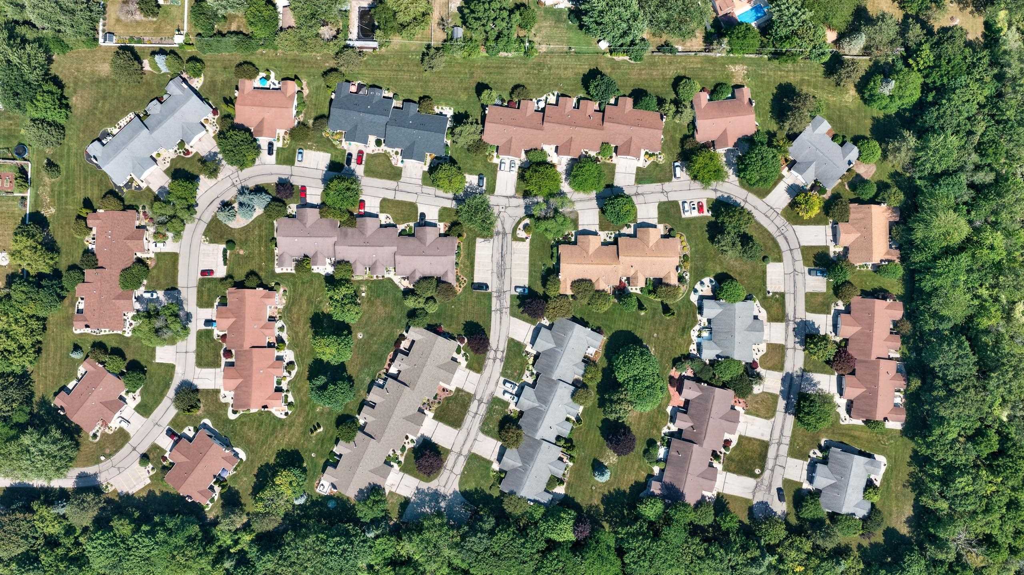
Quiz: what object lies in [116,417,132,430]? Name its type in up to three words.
vehicle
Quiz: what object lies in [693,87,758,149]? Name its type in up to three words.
house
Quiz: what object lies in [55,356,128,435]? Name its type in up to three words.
house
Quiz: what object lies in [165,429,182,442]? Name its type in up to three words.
vehicle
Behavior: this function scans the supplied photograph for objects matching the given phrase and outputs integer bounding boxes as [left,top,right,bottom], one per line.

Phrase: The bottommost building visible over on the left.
[165,429,240,506]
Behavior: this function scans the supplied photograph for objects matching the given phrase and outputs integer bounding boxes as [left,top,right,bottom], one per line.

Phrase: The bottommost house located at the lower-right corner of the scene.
[811,448,883,519]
